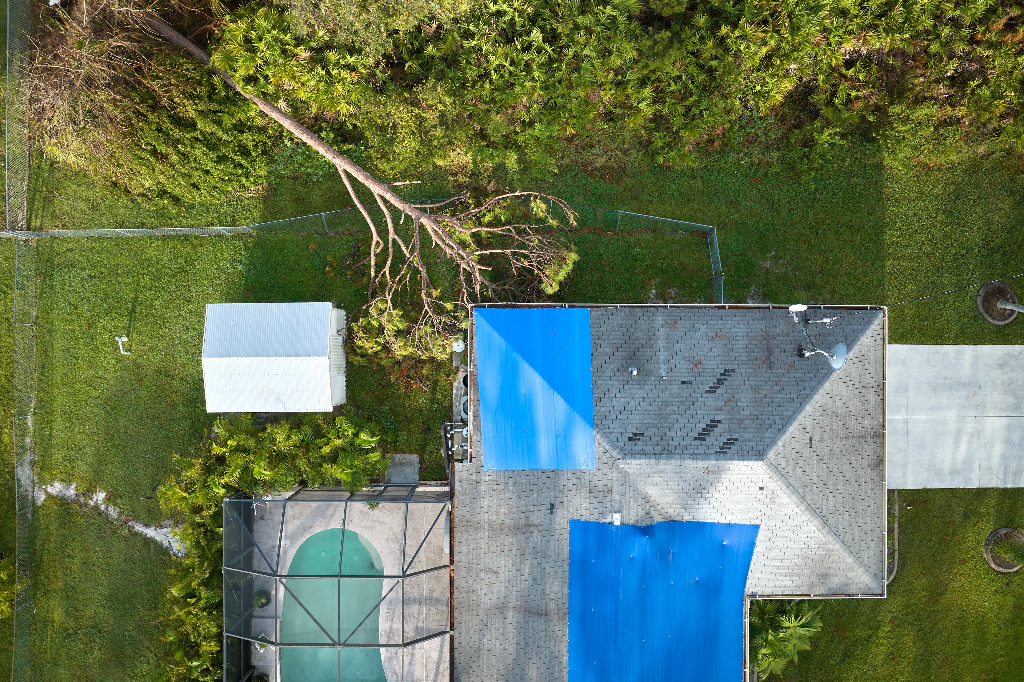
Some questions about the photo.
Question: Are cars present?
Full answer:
No, there appears to be no car in this shot.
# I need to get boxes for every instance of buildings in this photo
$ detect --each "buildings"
[201,303,346,412]
[449,305,888,682]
